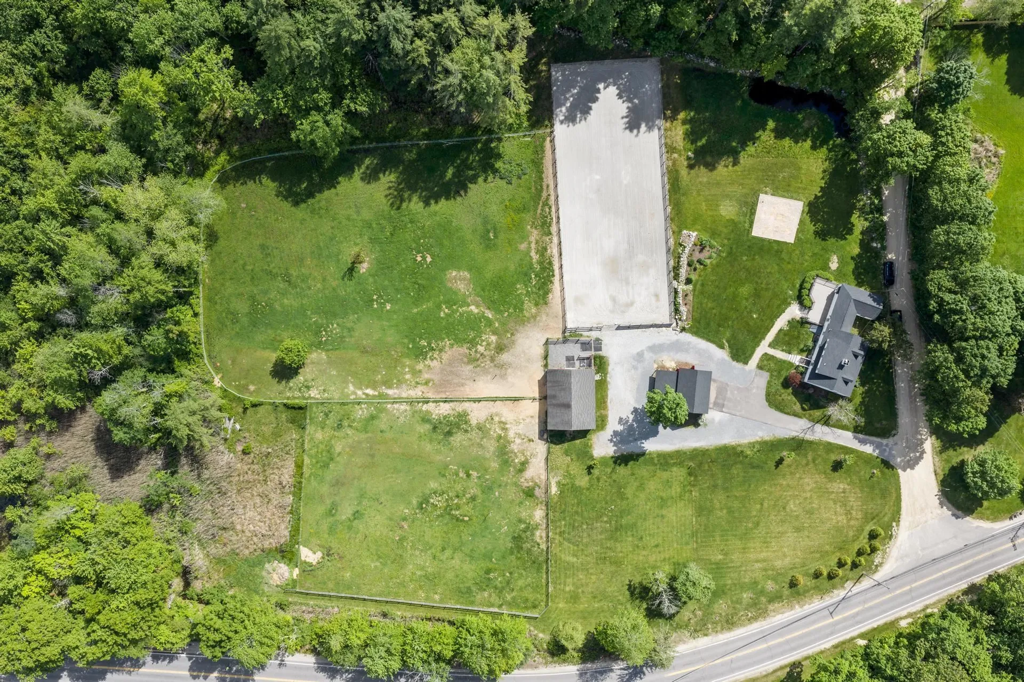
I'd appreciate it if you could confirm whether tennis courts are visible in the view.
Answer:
No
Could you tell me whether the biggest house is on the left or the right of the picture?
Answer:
right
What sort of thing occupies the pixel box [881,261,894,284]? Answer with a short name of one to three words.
vehicle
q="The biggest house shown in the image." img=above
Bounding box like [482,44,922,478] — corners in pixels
[799,281,883,397]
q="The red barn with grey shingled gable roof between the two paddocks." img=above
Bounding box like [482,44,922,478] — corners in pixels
[547,370,595,431]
